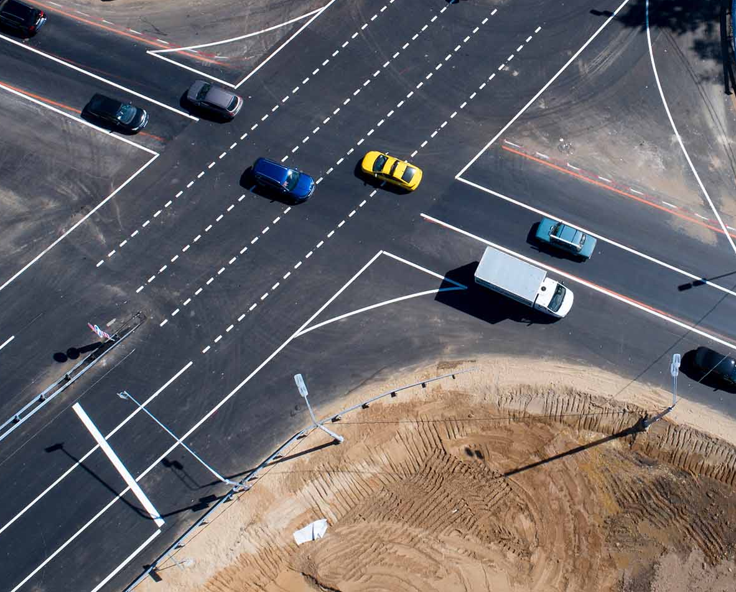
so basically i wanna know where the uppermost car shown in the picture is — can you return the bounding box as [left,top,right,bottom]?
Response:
[0,0,49,35]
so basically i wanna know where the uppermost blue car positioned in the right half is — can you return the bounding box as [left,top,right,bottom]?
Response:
[533,219,597,261]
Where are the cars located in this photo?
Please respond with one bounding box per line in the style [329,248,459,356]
[253,154,317,197]
[688,343,736,386]
[0,0,49,35]
[360,150,423,189]
[188,84,247,120]
[533,219,597,261]
[85,90,149,129]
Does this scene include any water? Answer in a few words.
No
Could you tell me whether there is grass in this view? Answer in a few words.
No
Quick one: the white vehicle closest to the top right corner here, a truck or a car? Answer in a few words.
truck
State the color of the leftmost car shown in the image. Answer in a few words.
black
